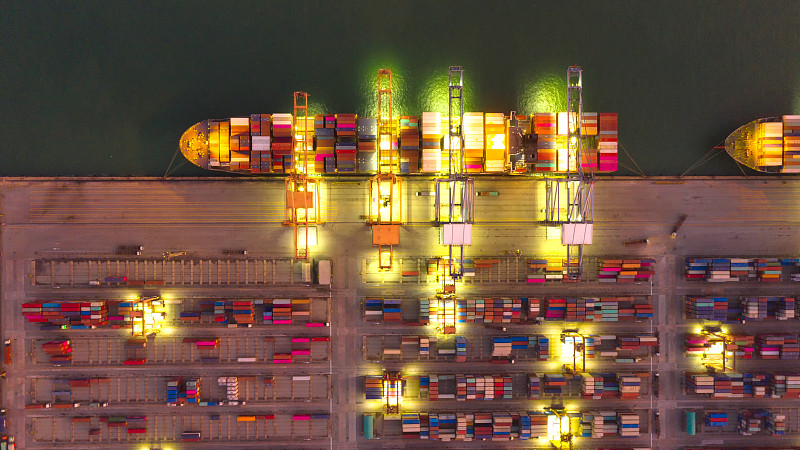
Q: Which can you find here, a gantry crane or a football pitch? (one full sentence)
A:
It is a gantry crane that can be seen here.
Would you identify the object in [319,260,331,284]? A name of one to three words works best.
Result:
shed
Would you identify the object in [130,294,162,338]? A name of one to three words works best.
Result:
container crane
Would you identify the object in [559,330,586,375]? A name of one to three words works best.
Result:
container crane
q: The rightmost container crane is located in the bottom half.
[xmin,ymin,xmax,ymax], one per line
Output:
[702,328,738,373]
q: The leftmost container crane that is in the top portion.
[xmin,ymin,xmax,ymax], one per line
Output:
[282,91,327,257]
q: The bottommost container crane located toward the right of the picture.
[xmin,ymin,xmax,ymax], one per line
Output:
[547,406,573,450]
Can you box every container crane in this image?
[282,91,327,257]
[430,66,473,279]
[367,68,405,268]
[130,294,162,338]
[539,66,598,279]
[559,330,586,375]
[702,328,738,373]
[438,253,457,296]
[547,406,573,450]
[438,294,457,338]
[383,370,402,419]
